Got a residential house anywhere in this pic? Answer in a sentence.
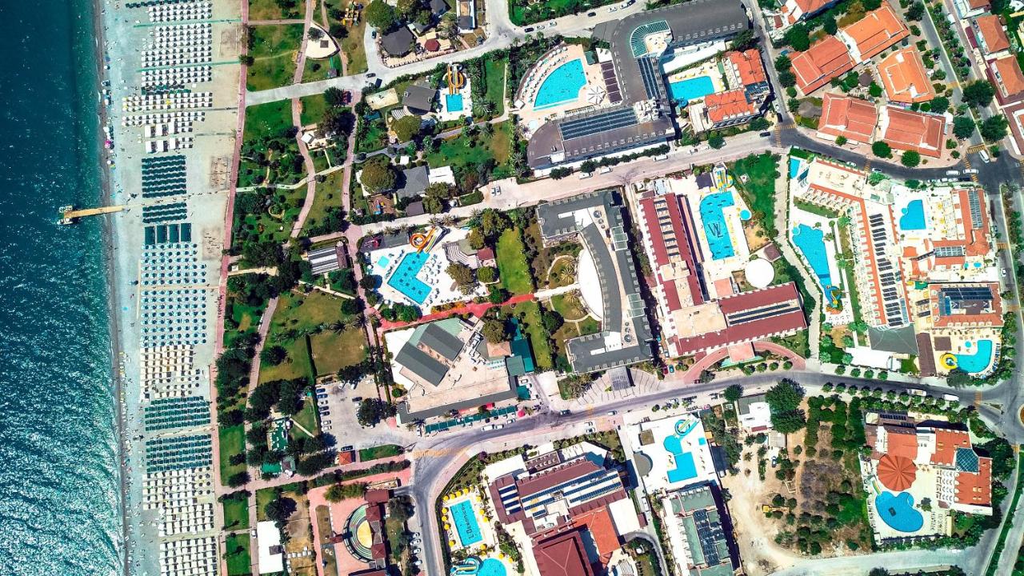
Yes, the frame does contain a residential house.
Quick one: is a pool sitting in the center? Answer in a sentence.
Yes, I can see a pool in the center.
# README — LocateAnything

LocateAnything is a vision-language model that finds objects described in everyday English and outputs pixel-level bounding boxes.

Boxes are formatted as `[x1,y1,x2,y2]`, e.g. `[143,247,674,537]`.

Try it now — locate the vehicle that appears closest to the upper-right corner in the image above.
[945,9,958,26]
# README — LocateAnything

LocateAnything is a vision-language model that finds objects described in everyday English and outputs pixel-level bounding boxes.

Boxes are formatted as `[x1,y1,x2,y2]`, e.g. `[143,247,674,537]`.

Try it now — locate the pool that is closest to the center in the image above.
[387,252,435,305]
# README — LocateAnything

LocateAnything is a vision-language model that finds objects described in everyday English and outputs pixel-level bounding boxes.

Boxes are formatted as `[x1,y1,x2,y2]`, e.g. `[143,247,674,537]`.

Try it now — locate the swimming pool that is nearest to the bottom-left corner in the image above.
[449,499,483,547]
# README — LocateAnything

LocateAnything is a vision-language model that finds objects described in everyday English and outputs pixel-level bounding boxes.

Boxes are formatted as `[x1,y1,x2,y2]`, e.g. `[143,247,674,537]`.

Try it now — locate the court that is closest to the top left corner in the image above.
[218,28,237,58]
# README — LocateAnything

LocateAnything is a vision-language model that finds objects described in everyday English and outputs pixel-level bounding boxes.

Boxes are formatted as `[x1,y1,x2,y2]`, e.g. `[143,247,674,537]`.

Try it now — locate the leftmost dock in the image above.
[58,205,124,218]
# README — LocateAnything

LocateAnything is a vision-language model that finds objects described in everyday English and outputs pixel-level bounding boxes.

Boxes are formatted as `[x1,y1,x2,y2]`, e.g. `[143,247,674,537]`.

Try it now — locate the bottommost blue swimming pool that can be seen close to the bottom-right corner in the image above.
[875,491,924,533]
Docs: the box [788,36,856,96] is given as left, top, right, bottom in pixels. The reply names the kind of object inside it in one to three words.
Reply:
house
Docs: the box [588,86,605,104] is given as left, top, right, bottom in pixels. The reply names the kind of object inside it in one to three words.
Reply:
umbrella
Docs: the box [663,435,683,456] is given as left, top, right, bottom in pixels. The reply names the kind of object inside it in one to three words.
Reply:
swimming pool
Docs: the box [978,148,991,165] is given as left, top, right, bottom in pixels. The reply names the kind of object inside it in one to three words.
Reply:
vehicle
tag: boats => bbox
[57,218,75,225]
[59,205,74,212]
